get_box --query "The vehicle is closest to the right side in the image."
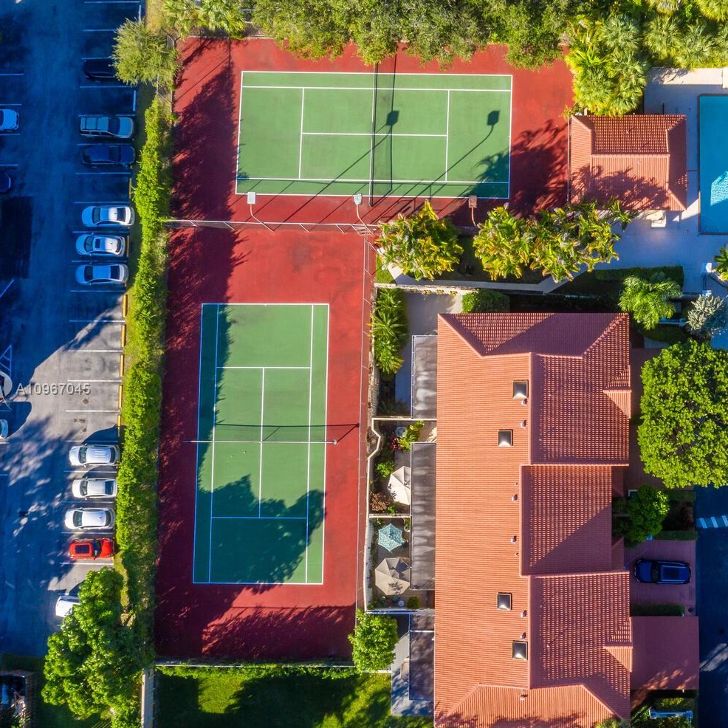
[633,558,691,585]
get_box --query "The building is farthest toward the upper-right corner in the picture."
[569,114,689,215]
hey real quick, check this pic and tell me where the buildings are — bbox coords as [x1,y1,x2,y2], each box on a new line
[569,114,689,215]
[433,313,633,728]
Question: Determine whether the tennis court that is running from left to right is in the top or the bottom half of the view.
top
